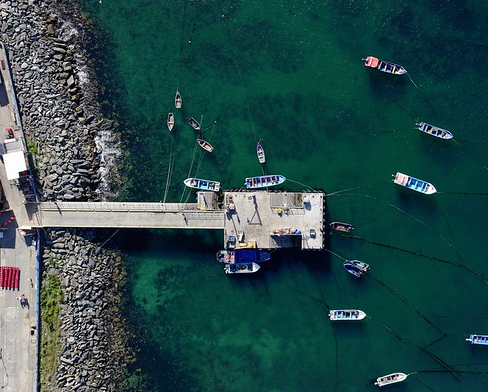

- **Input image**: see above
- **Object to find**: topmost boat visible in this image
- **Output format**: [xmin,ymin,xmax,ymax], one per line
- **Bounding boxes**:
[359,54,408,73]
